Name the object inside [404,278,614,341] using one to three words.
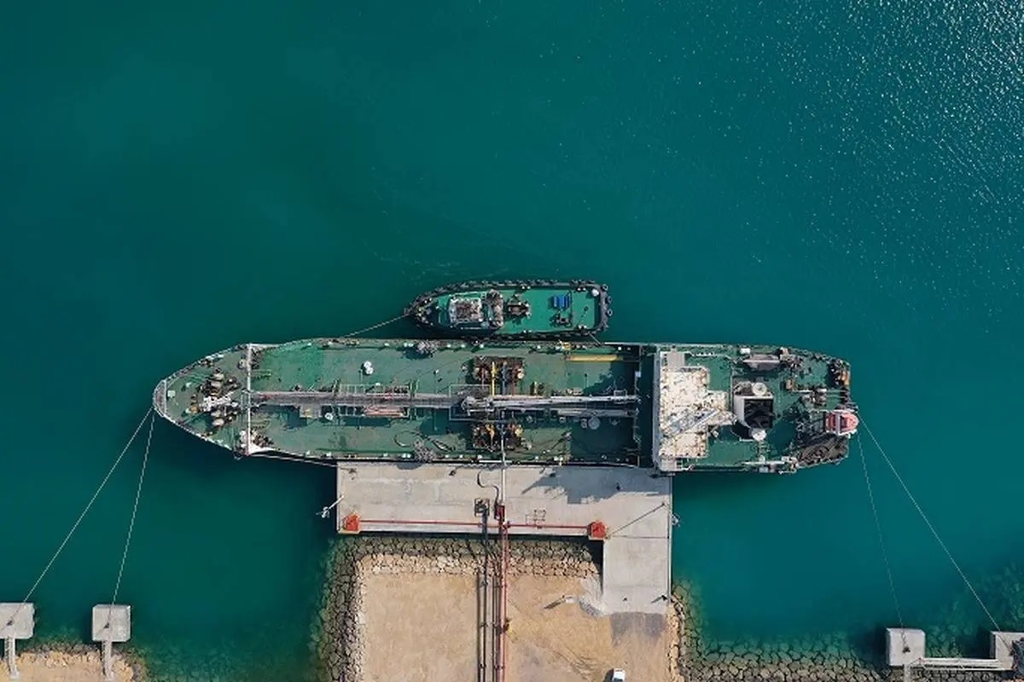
boat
